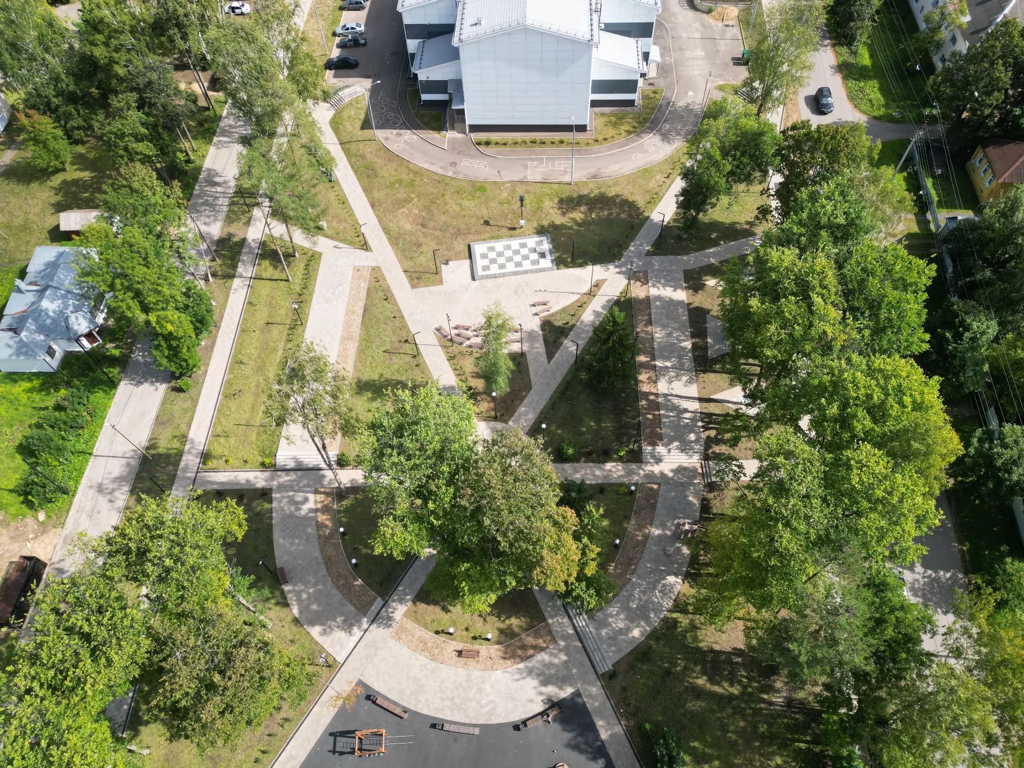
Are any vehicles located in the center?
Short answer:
No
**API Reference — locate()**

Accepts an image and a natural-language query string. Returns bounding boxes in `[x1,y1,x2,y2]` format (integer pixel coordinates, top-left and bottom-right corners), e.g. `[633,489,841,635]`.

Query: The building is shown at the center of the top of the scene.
[395,0,663,133]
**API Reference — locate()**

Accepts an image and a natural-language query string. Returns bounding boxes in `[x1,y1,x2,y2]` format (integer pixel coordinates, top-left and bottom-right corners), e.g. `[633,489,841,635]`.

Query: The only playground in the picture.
[299,678,617,768]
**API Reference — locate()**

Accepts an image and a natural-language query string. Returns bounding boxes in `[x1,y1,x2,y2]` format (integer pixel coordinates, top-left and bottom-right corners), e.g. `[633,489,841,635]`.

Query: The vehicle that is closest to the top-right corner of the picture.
[814,85,836,114]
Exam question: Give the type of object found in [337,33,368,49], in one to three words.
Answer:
car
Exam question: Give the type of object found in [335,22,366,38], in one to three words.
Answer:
car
